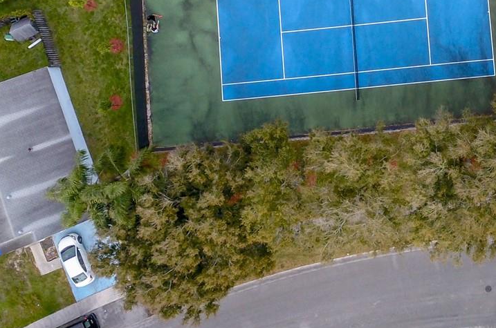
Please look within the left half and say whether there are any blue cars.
No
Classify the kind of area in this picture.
sports ground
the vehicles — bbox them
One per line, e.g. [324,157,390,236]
[55,233,93,292]
[50,311,98,328]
